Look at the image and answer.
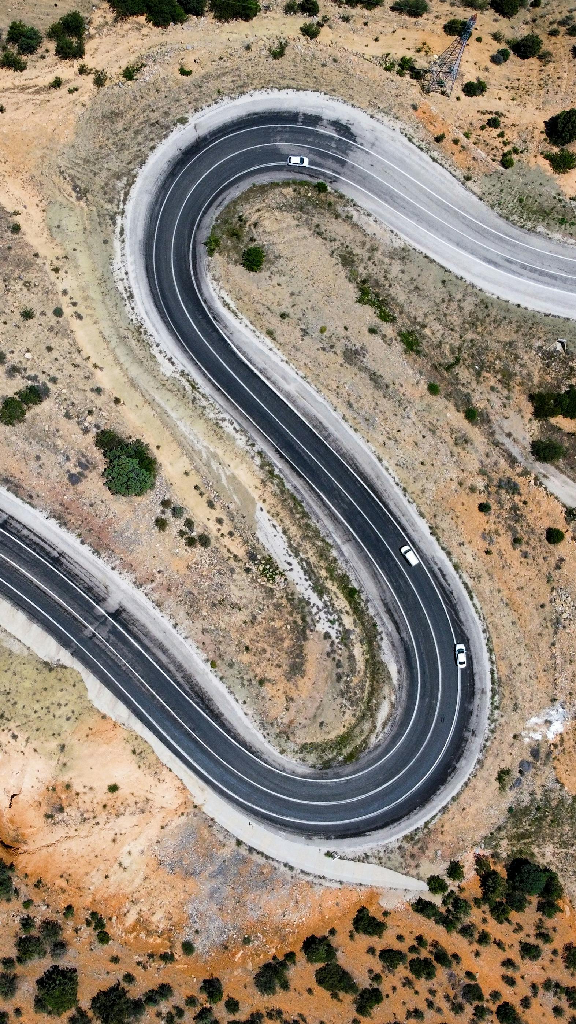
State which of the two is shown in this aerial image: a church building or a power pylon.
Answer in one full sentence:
Looking from above, you can make out a power pylon.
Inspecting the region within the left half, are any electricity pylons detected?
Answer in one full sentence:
No, no electricity pylon is visible within the left half.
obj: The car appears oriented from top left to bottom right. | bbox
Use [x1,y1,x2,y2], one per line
[400,543,418,567]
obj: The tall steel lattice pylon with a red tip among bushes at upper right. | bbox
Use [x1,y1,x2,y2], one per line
[416,11,481,103]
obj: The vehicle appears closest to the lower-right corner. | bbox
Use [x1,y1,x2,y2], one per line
[454,643,466,668]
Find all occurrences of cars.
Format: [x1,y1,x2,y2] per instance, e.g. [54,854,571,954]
[286,155,308,166]
[454,643,466,668]
[400,543,418,567]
